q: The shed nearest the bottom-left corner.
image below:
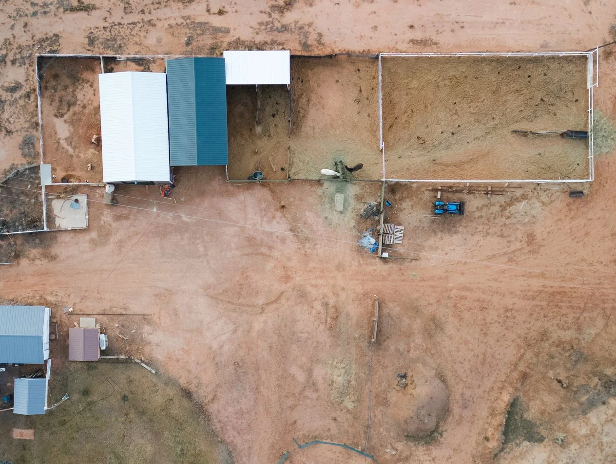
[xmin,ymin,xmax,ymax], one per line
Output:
[13,377,49,415]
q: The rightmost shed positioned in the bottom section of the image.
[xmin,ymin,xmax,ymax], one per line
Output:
[68,327,101,360]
